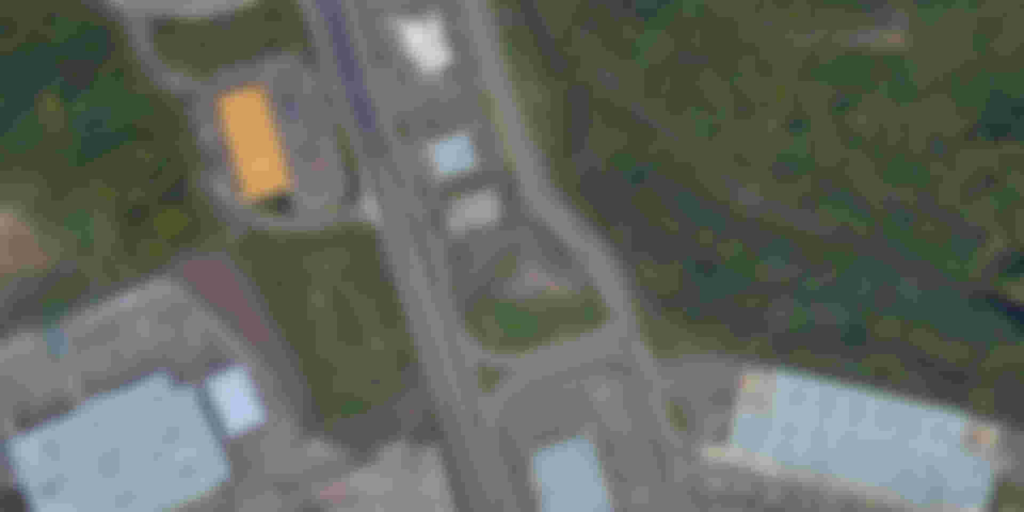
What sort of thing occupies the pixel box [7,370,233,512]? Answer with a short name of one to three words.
building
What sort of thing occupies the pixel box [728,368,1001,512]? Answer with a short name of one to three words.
warehouse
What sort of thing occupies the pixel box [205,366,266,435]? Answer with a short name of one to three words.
building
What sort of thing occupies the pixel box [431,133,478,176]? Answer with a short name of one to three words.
house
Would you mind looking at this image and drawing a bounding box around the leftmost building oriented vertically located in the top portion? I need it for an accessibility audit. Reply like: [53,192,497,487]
[218,84,292,204]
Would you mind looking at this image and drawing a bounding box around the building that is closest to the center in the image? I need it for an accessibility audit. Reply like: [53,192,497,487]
[449,190,503,233]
